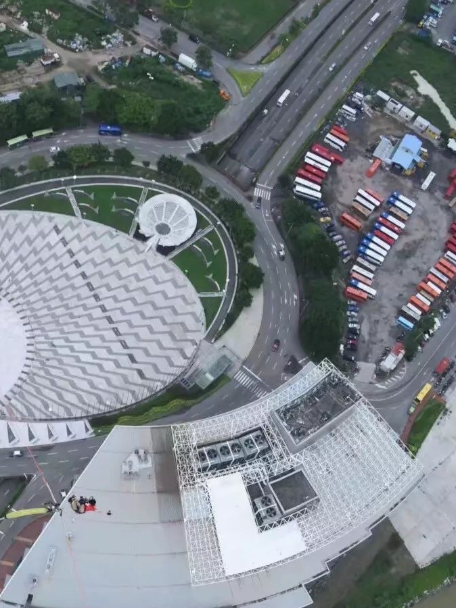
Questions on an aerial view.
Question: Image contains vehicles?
Yes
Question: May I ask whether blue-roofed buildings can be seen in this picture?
Yes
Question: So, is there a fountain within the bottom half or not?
No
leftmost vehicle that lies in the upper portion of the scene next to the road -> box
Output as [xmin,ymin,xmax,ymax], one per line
[7,137,29,153]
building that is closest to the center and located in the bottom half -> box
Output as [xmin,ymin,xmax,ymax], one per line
[180,353,233,390]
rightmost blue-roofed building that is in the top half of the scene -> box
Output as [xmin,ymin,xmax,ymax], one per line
[388,134,423,178]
